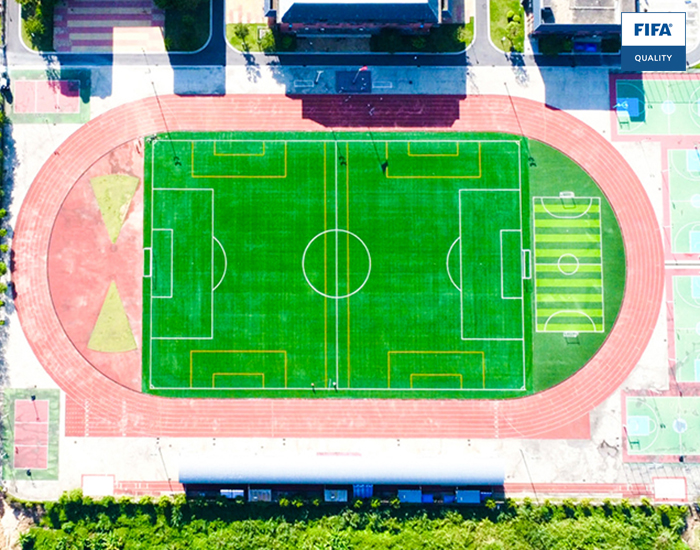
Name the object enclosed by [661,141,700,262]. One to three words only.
basketball court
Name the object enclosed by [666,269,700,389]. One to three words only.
basketball court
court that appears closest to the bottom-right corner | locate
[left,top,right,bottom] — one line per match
[621,389,700,462]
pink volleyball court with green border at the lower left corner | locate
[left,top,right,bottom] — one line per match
[1,389,61,480]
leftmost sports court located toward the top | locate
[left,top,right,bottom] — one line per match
[10,70,90,124]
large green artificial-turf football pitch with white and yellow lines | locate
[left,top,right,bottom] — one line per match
[142,132,528,398]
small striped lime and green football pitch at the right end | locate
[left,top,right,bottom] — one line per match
[532,197,605,333]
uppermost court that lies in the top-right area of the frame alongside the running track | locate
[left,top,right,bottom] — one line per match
[610,72,700,141]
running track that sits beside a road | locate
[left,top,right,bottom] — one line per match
[10,95,664,437]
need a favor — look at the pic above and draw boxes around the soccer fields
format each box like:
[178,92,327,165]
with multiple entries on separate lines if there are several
[142,132,528,398]
[532,197,605,333]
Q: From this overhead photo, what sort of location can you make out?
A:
sports ground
